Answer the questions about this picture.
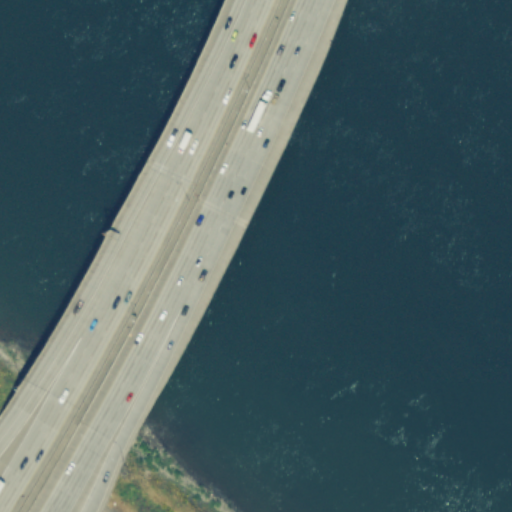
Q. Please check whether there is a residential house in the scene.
No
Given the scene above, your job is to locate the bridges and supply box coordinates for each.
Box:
[0,0,348,512]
